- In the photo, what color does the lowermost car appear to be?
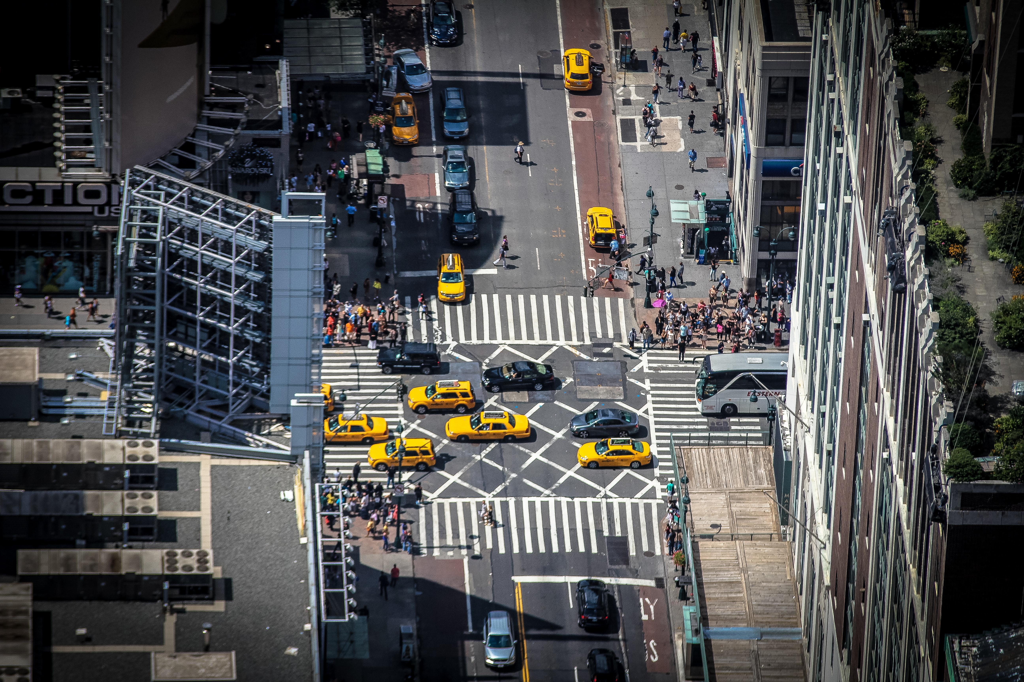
black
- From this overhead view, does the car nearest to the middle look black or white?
black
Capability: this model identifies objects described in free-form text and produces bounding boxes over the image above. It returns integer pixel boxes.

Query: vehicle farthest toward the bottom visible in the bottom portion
[586,653,622,682]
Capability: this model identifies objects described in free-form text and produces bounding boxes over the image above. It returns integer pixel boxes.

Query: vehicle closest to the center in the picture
[480,364,556,395]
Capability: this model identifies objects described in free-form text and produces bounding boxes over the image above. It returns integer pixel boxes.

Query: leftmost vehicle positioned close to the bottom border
[481,610,520,670]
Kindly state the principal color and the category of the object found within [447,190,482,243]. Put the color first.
black car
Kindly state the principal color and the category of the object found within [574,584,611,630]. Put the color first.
black car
